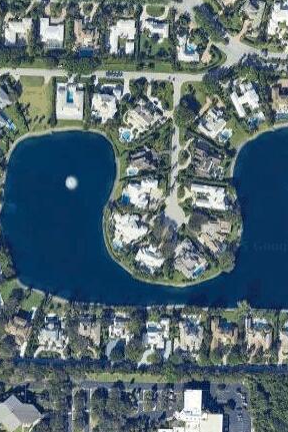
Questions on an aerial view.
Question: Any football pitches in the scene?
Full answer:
No, no football pitch is visible in the scene.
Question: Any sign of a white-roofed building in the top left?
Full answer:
Yes, I can see a white-roofed building in the top left.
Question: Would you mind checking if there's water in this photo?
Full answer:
Yes, there's water in this view.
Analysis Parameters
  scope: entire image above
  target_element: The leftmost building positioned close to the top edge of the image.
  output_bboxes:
[5,18,31,46]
